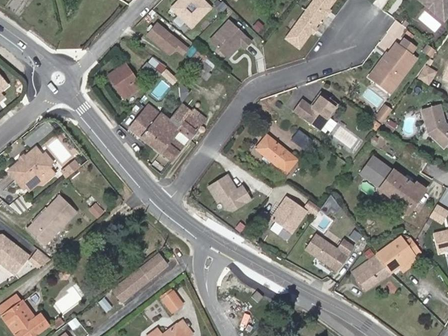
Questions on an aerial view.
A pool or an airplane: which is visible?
pool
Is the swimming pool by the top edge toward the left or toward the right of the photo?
right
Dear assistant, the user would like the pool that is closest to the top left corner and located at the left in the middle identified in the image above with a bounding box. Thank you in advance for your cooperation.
[44,131,81,168]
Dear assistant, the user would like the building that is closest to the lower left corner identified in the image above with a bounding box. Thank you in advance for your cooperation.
[0,292,49,336]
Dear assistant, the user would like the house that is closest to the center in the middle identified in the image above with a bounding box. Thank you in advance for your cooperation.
[208,174,252,212]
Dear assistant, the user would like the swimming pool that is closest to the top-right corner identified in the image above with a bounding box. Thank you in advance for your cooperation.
[412,8,447,36]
